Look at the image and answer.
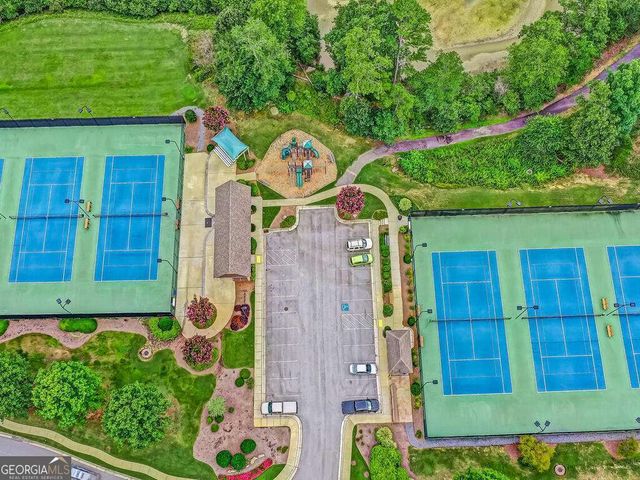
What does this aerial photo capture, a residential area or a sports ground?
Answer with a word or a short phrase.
sports ground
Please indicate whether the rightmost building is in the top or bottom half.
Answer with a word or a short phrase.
bottom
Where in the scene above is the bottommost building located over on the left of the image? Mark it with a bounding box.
[213,181,252,281]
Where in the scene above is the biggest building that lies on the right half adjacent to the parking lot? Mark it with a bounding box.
[386,329,413,374]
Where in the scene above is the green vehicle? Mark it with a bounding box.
[350,253,372,266]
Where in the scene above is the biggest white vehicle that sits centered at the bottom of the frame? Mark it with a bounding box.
[261,400,298,416]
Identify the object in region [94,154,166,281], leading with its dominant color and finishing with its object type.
blue tennis court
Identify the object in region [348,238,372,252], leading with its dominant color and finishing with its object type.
white car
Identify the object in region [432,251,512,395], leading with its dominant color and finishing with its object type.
blue tennis court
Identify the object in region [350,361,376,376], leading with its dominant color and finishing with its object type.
white car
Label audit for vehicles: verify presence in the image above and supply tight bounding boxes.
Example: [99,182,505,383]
[348,238,372,252]
[350,253,372,266]
[341,399,379,414]
[350,361,376,376]
[261,400,298,416]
